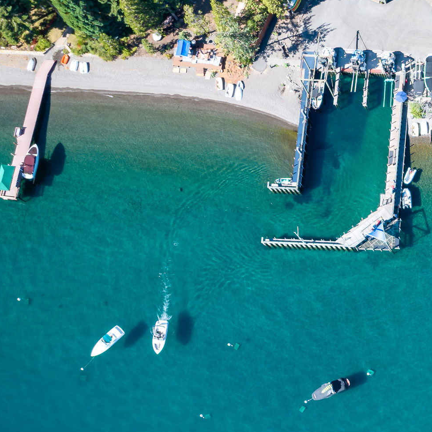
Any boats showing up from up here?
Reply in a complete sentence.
Yes, the photo shows a boat.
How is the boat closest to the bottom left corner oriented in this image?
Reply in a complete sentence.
The boat closest to the bottom left corner has been laid out on a diagonal relative to the frame.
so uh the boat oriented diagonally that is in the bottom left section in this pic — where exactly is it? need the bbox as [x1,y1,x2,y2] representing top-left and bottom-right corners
[90,325,125,356]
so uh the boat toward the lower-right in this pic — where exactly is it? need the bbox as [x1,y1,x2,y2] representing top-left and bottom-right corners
[312,379,350,402]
